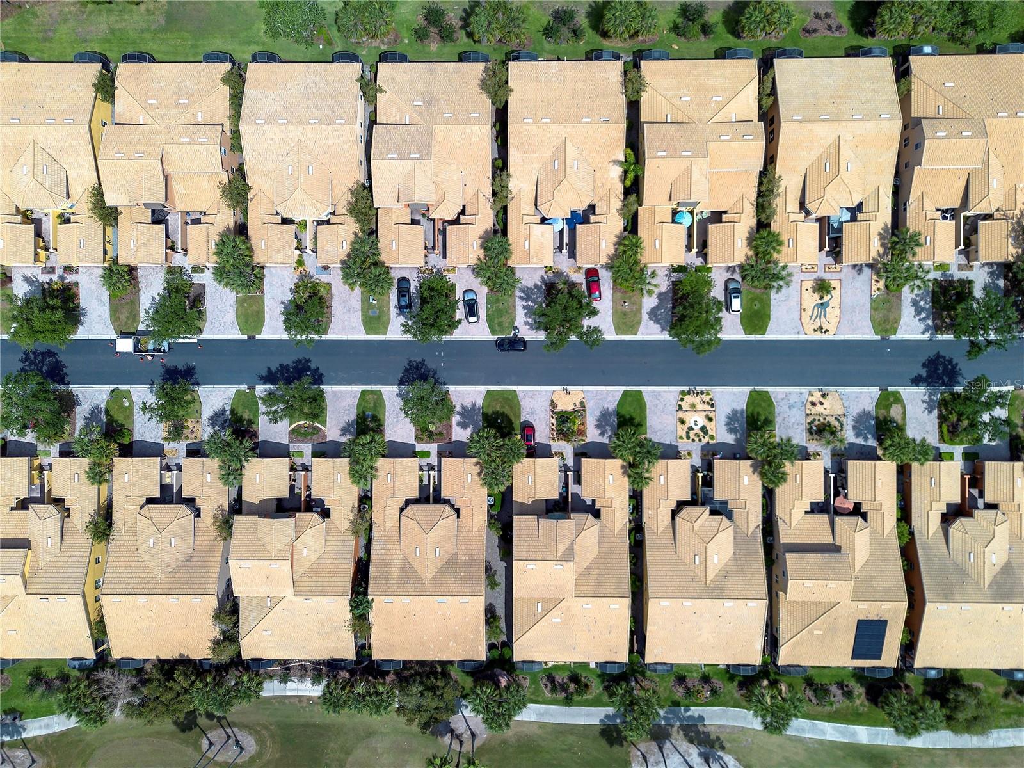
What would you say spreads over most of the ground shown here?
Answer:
buildings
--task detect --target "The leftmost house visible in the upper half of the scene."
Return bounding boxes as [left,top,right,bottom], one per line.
[0,52,111,267]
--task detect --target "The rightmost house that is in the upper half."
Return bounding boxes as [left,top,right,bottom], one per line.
[900,45,1024,264]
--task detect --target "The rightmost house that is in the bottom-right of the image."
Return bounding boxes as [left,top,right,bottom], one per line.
[904,462,1024,680]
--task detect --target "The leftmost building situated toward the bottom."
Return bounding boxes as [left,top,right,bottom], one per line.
[0,456,105,670]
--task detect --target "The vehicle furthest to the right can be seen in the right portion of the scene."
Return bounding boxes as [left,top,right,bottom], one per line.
[725,279,742,314]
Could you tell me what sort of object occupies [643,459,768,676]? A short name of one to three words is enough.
house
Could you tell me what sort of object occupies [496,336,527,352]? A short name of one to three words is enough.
car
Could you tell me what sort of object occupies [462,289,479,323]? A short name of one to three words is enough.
car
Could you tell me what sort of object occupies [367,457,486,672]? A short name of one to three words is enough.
house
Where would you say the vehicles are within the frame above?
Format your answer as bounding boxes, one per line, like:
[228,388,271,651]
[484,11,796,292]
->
[114,336,169,356]
[584,268,600,300]
[462,289,479,323]
[725,279,742,314]
[496,336,527,352]
[522,423,537,455]
[395,278,411,311]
